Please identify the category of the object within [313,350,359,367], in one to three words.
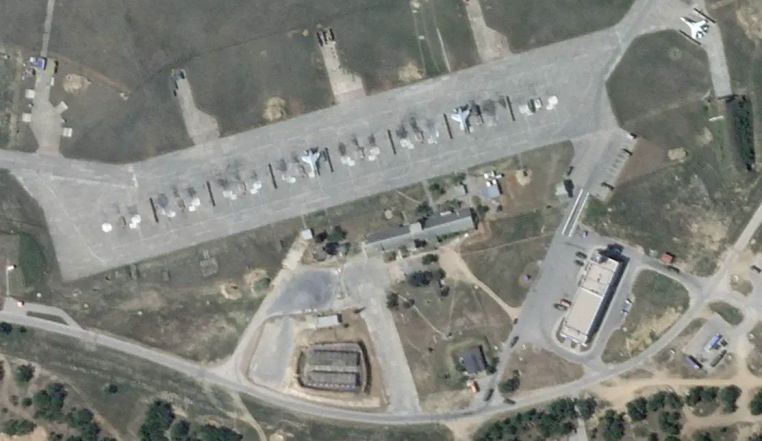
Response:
shed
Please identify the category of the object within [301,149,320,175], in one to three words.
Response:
airplane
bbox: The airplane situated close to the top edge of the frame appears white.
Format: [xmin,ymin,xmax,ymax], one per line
[682,18,706,37]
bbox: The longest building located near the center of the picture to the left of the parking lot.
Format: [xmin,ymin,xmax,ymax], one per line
[363,210,474,254]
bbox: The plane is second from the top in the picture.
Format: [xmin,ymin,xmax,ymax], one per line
[451,106,469,132]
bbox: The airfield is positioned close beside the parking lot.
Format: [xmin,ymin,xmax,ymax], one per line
[0,0,731,281]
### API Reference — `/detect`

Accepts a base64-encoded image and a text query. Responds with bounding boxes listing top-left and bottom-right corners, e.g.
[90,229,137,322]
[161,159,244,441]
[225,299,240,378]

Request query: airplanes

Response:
[682,18,706,37]
[451,106,469,132]
[301,149,320,175]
